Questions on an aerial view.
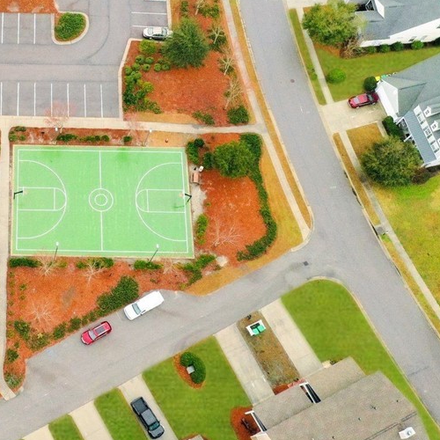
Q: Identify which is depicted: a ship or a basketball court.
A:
basketball court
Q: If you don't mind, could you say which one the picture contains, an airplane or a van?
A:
van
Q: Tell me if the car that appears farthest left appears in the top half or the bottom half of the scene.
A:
bottom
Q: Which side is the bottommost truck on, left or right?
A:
left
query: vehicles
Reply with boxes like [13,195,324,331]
[143,27,173,42]
[125,292,166,322]
[80,319,114,345]
[347,90,378,108]
[131,396,165,440]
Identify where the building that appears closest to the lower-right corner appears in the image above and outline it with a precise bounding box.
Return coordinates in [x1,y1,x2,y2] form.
[241,356,425,440]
